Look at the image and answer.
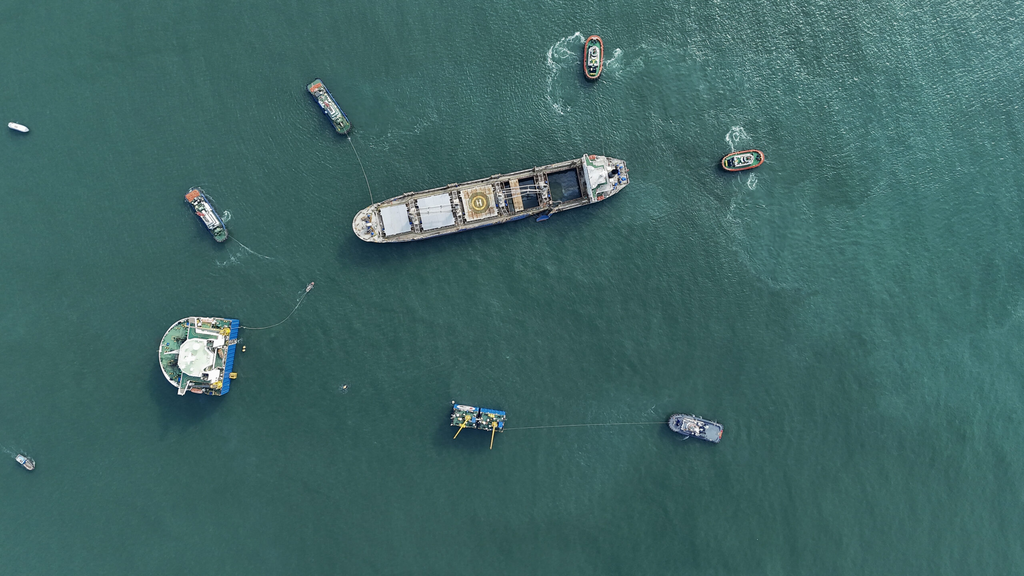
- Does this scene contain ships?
Yes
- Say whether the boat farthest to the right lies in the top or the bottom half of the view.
top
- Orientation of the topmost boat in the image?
from top to bottom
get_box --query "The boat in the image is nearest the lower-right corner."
[668,413,723,443]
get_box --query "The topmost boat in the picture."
[583,35,604,81]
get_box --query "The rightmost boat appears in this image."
[720,149,765,173]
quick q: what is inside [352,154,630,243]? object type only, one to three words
ship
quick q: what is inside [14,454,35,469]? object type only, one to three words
boat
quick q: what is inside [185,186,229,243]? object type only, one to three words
boat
